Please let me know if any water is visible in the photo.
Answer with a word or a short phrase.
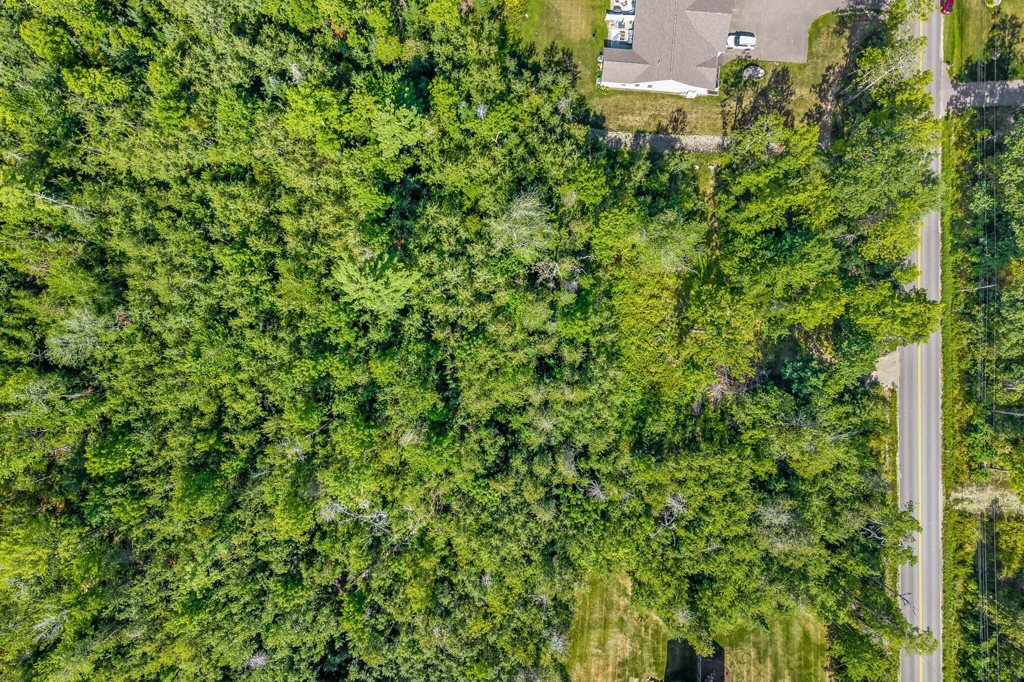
No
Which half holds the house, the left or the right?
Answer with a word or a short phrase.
right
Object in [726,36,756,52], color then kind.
white car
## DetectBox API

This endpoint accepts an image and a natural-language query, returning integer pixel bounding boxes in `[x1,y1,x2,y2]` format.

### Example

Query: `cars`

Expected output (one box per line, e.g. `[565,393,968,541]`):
[726,36,756,52]
[939,0,953,15]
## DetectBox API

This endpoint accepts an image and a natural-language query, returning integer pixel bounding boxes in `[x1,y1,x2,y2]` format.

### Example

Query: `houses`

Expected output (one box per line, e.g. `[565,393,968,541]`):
[601,0,732,97]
